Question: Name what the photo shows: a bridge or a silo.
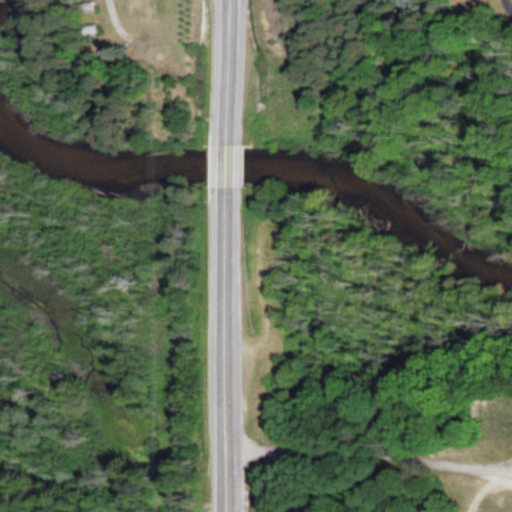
bridge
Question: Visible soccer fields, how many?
0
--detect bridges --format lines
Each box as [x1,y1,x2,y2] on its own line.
[206,142,252,190]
